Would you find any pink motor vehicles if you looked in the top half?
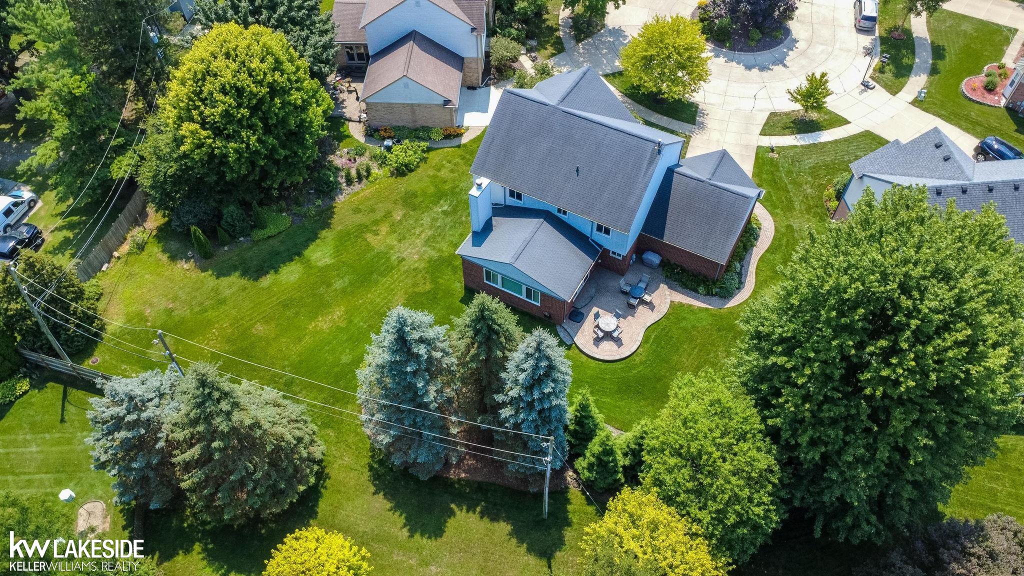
No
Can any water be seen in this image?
No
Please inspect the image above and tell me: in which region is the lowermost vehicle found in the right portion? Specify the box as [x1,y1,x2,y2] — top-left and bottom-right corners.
[971,132,1024,160]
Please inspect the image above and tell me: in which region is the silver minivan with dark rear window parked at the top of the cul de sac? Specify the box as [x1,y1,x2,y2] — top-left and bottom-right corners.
[843,0,881,28]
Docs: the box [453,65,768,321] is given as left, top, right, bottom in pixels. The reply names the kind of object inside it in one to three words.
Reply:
house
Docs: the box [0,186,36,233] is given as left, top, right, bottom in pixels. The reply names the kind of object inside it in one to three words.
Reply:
van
